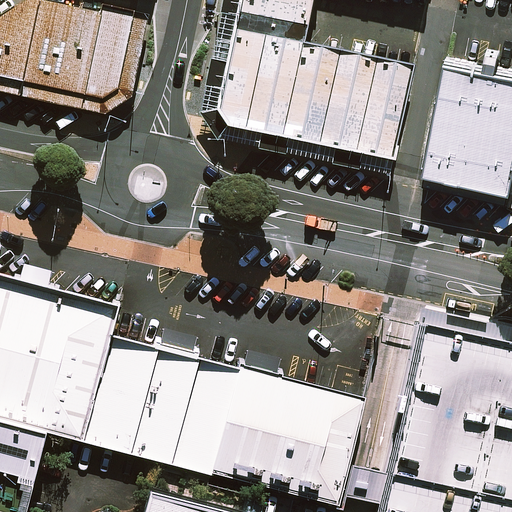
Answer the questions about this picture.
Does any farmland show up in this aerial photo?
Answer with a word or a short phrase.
No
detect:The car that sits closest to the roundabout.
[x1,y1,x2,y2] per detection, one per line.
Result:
[145,200,168,218]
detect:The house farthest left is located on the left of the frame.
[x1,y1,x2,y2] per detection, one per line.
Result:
[0,426,46,488]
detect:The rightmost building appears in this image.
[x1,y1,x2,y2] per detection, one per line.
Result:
[423,48,512,208]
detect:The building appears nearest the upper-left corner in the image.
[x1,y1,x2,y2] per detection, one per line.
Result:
[0,0,147,114]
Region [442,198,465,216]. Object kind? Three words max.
car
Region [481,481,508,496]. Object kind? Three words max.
vehicle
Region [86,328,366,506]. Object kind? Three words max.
building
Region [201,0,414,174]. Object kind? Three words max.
building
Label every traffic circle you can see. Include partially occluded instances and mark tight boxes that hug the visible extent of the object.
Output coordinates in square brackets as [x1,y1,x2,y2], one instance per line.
[128,164,167,202]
